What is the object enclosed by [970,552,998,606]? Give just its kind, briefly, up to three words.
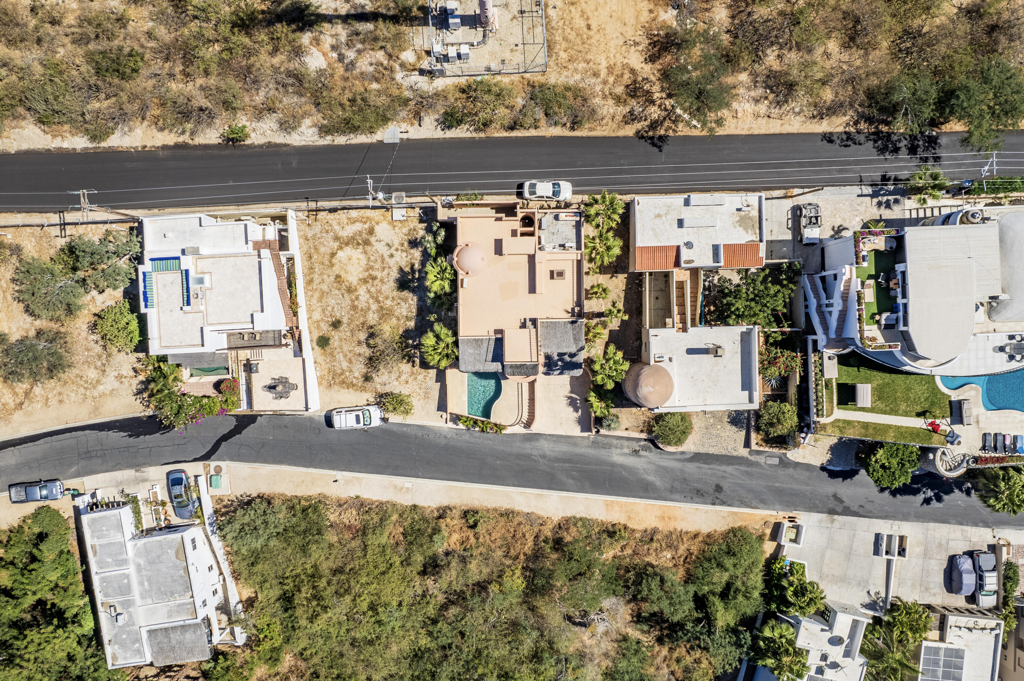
car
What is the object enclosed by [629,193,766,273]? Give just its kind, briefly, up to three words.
house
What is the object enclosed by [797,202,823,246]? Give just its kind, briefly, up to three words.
car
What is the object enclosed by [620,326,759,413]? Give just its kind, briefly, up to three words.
house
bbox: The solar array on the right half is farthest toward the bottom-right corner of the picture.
[913,644,963,681]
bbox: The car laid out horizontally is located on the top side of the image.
[524,179,571,201]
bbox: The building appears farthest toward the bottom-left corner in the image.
[73,484,243,670]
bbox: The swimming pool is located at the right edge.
[936,366,1024,416]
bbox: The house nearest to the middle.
[449,210,586,383]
